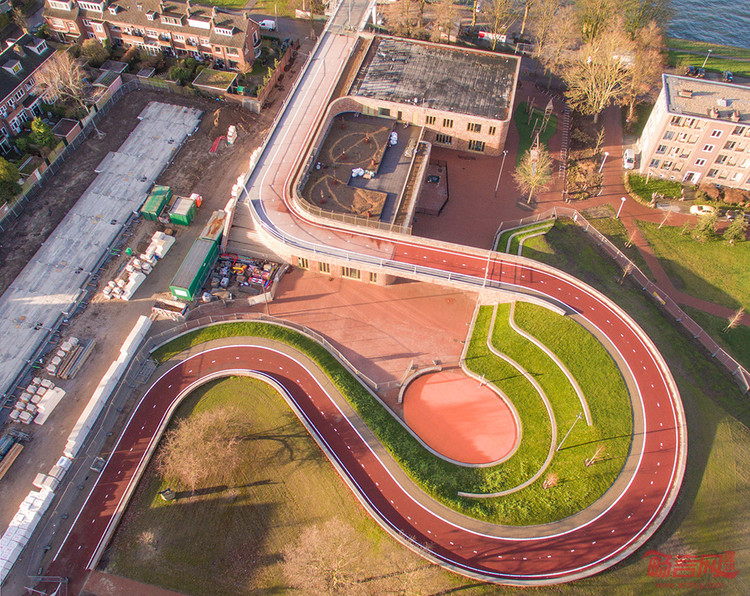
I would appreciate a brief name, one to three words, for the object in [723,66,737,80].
vehicle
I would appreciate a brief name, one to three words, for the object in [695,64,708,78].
vehicle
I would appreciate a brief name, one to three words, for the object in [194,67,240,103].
shed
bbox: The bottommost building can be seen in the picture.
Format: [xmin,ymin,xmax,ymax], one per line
[169,239,219,302]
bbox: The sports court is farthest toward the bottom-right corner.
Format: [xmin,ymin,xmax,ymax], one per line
[404,370,516,464]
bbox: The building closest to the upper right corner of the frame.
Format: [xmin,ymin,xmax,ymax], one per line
[641,77,750,191]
